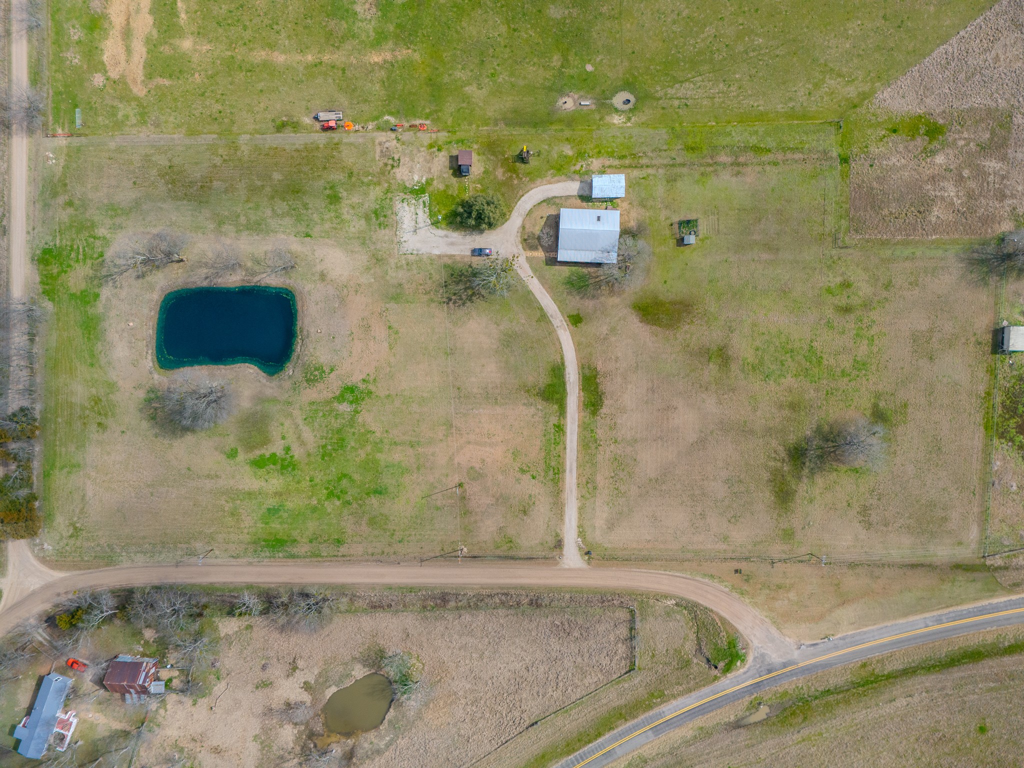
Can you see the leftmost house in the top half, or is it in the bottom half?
bottom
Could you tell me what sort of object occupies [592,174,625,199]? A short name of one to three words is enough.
building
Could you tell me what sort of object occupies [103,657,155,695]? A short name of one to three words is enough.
barn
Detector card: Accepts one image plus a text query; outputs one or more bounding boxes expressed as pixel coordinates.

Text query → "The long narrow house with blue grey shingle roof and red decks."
[13,672,72,759]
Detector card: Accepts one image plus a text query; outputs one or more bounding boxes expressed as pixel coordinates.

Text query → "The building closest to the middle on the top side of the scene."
[557,207,620,263]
